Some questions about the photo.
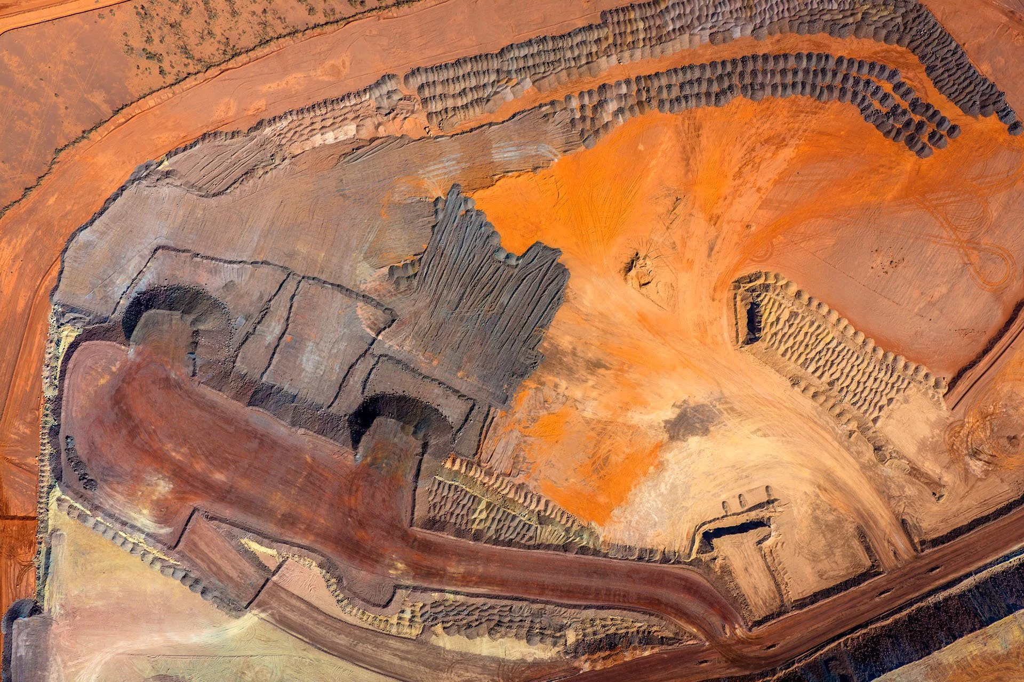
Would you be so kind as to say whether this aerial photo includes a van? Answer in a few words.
No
